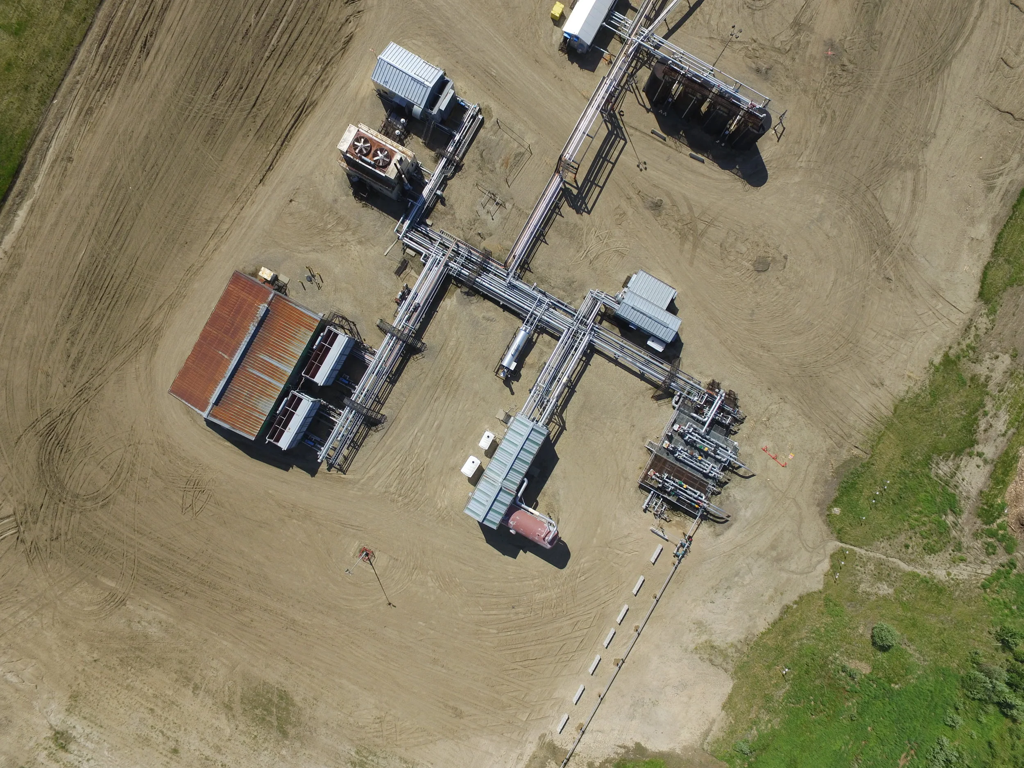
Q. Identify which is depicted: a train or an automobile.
train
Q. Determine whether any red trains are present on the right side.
No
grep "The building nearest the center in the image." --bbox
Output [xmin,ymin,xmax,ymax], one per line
[484,406,551,493]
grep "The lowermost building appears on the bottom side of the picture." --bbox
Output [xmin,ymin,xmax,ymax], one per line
[462,474,521,530]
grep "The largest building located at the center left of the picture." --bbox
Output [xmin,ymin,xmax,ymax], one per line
[167,270,334,440]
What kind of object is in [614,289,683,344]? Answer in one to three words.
building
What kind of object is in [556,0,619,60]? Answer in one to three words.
building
